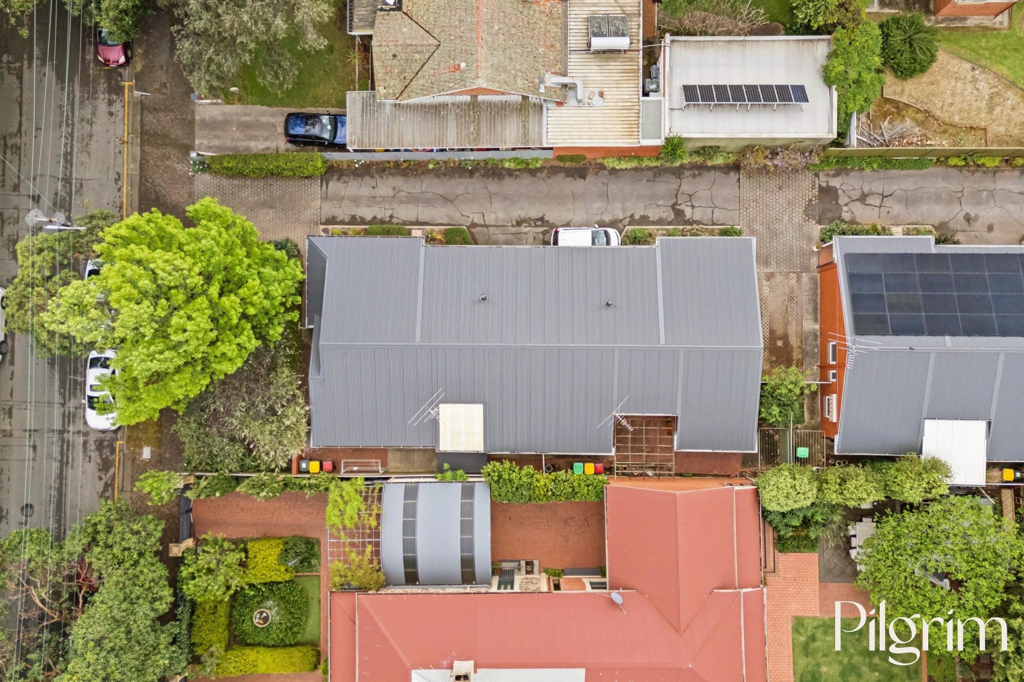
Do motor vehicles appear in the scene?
Yes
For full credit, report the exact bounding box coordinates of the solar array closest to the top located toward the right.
[669,84,808,111]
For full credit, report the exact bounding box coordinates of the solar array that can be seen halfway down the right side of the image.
[844,252,1024,337]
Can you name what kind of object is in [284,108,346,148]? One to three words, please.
car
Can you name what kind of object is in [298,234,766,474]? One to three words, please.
house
